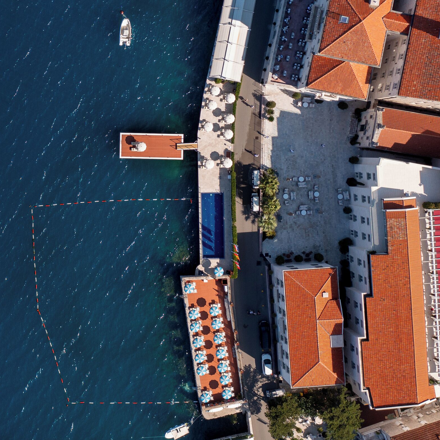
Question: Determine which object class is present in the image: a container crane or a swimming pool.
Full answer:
This aerial view contains a swimming pool.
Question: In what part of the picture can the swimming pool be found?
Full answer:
The swimming pool is located in the center region of the scene.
